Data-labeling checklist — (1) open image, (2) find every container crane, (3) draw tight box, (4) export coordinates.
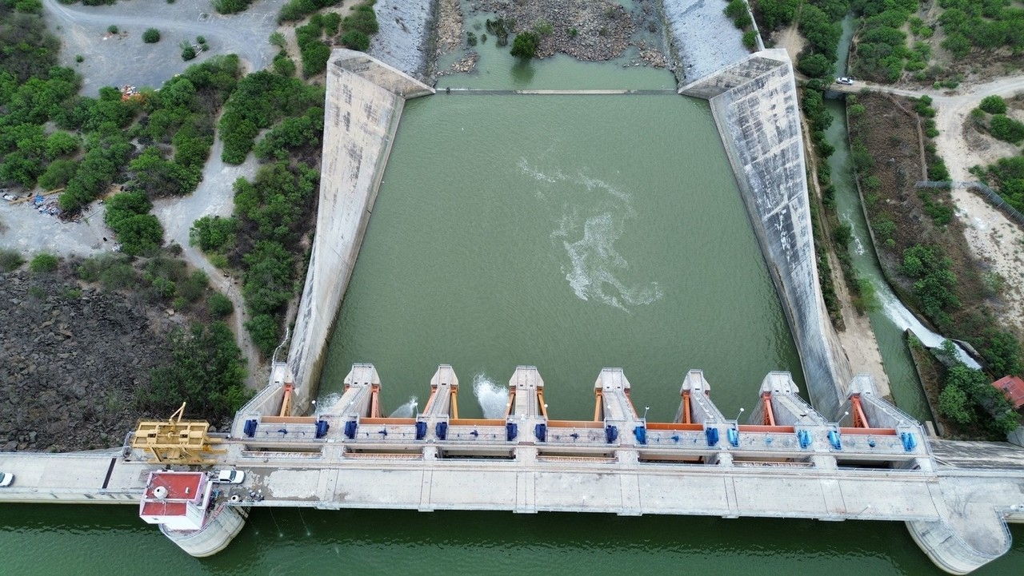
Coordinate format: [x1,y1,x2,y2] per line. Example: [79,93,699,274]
[128,397,241,462]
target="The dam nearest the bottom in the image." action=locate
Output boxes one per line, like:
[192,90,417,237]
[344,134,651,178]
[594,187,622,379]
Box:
[0,361,1024,574]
